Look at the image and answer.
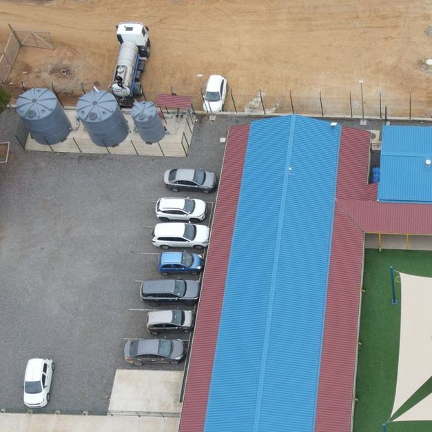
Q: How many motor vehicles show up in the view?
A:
10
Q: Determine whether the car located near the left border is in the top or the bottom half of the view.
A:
bottom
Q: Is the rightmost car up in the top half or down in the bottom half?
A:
top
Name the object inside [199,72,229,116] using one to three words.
car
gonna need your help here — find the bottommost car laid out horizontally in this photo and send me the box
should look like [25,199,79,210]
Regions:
[124,337,189,367]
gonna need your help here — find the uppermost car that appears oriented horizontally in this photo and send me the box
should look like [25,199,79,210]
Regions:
[162,168,219,195]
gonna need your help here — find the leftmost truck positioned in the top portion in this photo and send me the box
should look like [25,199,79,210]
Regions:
[115,23,158,102]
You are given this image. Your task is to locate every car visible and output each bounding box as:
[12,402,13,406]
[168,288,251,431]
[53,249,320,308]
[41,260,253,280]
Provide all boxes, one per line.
[136,278,201,308]
[152,195,209,224]
[144,308,197,336]
[162,168,219,195]
[19,358,57,409]
[149,223,210,252]
[124,337,189,367]
[199,72,229,116]
[157,250,206,277]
